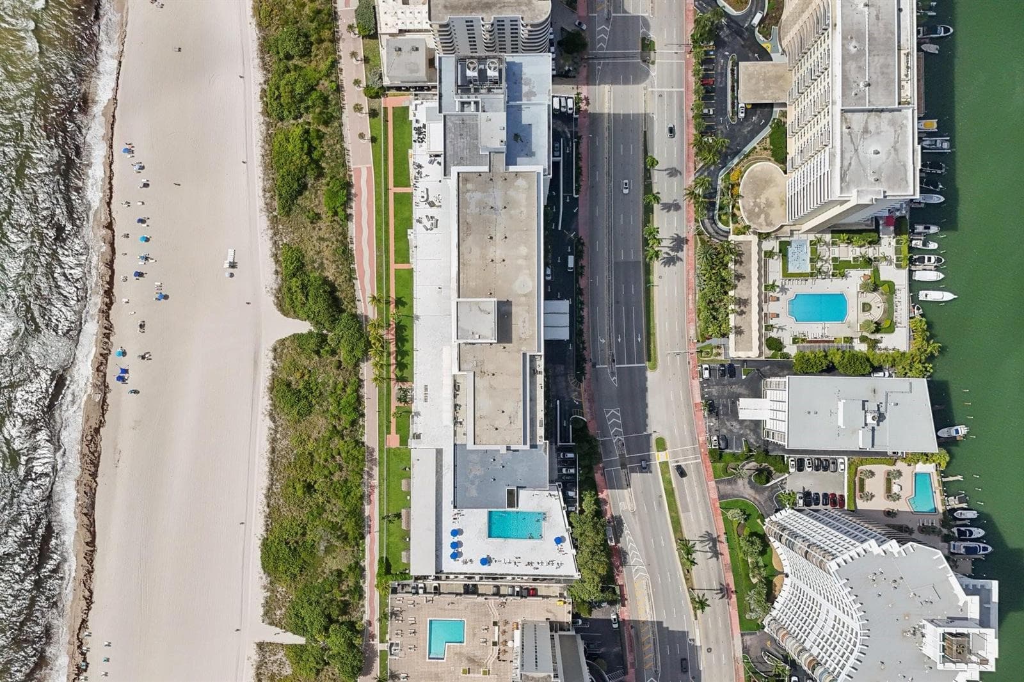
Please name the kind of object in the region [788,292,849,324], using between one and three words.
swimming pool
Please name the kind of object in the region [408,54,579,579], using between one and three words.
building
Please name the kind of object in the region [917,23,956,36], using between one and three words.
boat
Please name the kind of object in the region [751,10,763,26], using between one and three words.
vehicle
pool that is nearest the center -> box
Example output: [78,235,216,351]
[486,509,545,540]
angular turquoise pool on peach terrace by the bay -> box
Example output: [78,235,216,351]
[906,471,938,514]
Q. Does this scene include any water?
Yes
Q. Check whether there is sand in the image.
Yes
